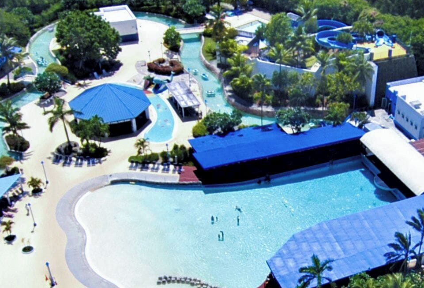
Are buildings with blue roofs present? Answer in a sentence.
Yes, the image includes a building with a blue roof.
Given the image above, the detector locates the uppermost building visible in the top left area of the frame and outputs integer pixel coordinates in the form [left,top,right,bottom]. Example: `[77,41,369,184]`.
[91,4,139,45]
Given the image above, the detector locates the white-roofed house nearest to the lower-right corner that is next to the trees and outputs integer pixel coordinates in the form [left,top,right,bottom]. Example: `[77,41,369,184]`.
[359,125,424,198]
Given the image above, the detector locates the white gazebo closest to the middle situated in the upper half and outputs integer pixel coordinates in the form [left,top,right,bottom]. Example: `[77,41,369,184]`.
[165,81,198,120]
